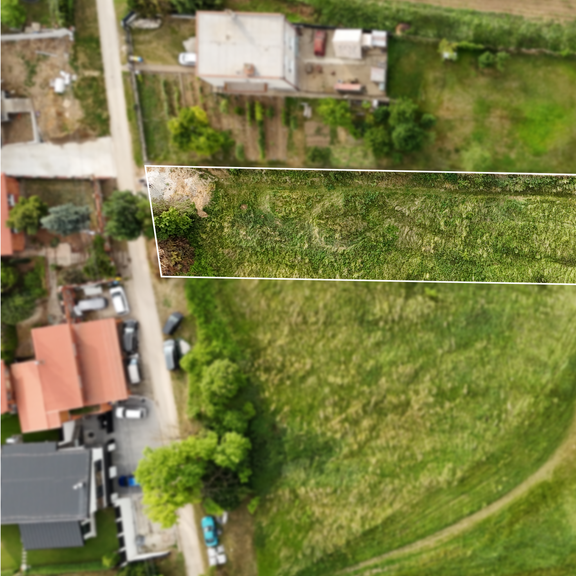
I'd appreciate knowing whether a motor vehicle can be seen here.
Yes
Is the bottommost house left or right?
left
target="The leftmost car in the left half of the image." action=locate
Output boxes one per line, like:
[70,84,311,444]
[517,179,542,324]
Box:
[78,298,109,312]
